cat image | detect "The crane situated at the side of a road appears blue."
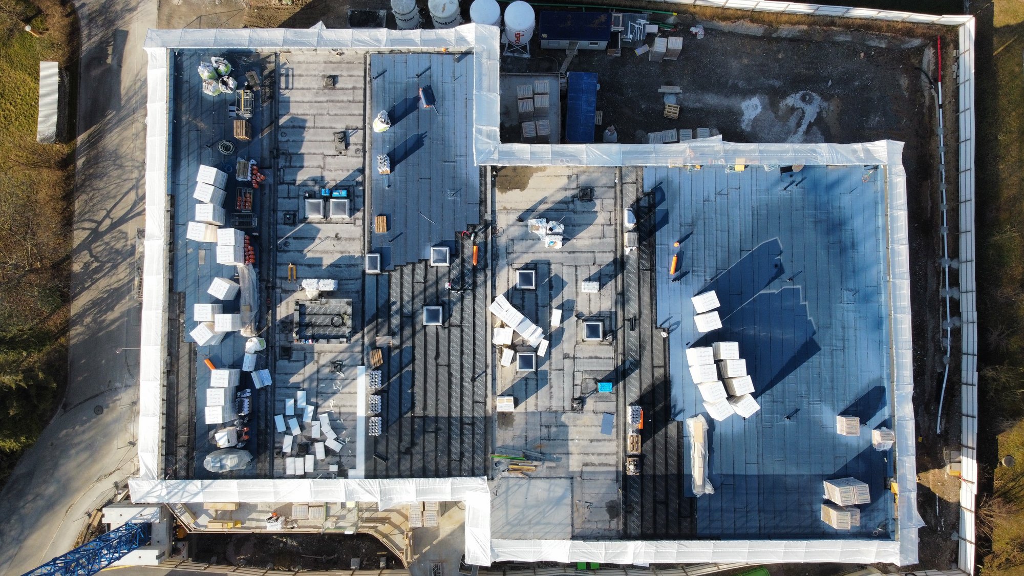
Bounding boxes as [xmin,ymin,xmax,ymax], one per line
[18,521,150,576]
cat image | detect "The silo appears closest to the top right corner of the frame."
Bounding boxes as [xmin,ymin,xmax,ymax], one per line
[499,2,537,58]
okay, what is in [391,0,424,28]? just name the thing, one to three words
silo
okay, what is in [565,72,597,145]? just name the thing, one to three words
shipping container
